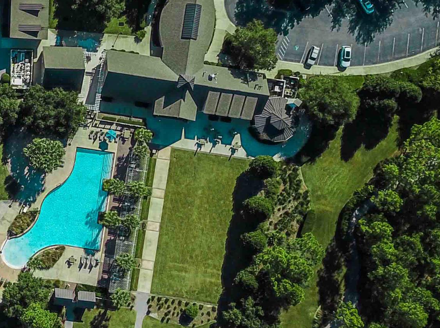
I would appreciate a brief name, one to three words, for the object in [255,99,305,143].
gazebo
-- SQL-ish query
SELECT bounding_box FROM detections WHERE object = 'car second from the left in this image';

[341,44,354,68]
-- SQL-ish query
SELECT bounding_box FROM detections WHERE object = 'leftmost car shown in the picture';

[306,45,322,67]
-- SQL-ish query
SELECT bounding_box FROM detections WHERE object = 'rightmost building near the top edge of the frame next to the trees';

[100,0,274,121]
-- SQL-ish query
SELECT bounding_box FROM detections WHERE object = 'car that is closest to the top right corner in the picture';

[358,0,376,14]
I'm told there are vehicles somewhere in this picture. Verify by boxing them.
[306,45,322,67]
[341,44,354,68]
[358,0,376,14]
